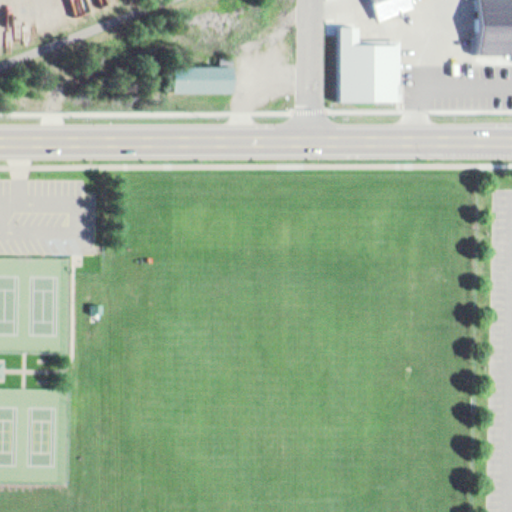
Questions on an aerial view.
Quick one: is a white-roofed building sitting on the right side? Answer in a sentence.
Yes, the scene does show a white-roofed building on the right side.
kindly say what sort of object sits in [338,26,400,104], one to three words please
building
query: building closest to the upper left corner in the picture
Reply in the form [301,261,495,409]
[174,66,236,94]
